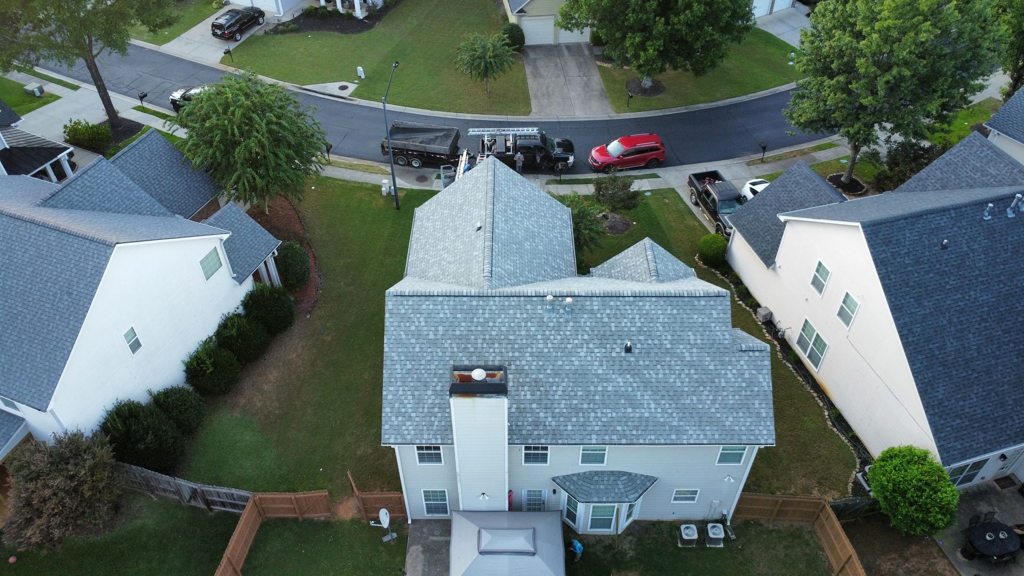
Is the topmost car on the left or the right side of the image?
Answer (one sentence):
You can find the topmost car on the left side of the picture.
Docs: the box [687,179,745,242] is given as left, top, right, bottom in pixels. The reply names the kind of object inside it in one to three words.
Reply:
truck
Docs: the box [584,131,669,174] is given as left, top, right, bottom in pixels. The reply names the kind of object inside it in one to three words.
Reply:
car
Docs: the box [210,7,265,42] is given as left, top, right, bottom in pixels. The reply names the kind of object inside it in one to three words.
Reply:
car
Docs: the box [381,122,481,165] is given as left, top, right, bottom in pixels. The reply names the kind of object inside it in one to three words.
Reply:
trailer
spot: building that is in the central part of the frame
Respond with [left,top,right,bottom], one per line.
[382,155,775,535]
